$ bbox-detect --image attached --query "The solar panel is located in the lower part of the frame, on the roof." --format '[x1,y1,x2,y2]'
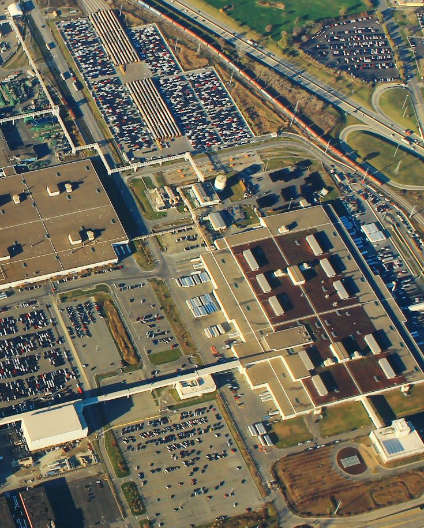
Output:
[383,437,405,453]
